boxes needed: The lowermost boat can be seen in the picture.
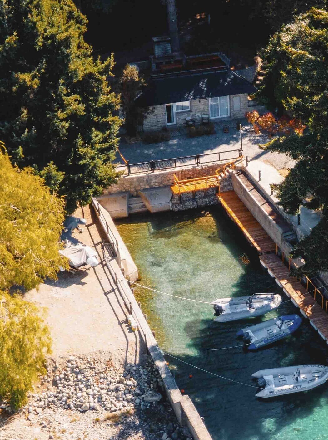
[247,364,328,400]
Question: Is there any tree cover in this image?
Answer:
Yes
